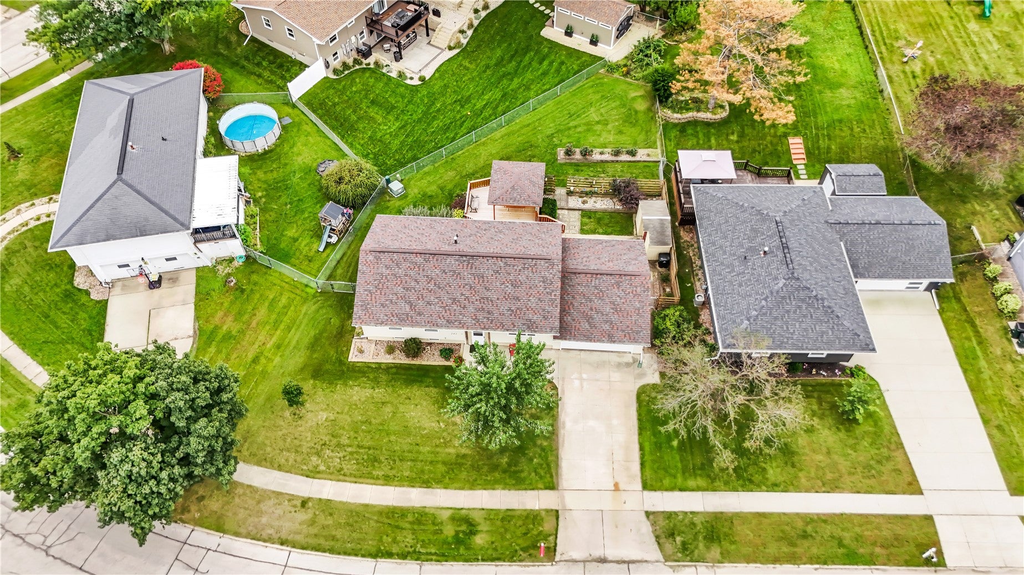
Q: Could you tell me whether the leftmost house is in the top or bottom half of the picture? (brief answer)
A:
top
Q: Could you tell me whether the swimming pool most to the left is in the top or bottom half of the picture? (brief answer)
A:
top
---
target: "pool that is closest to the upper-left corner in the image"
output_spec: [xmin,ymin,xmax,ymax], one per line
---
[219,101,284,153]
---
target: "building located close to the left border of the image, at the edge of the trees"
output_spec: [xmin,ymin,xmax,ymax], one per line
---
[46,67,247,286]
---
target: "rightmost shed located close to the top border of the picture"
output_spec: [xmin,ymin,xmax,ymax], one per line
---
[552,0,637,49]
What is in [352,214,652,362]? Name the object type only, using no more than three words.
house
